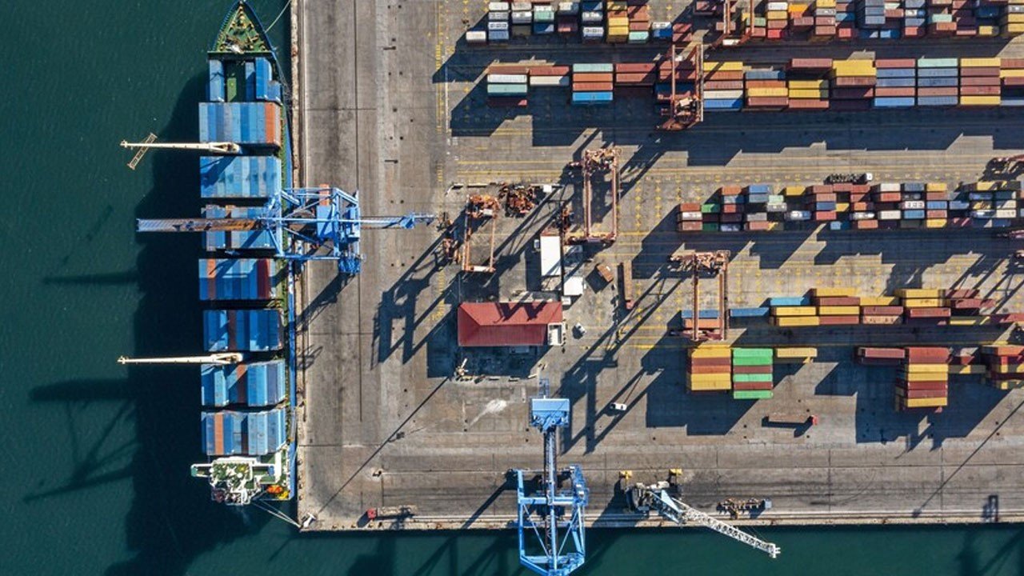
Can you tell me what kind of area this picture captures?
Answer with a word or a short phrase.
port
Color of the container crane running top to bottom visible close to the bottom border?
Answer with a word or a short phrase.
blue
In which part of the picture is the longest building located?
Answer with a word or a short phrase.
center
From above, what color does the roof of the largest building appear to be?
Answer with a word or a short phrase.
red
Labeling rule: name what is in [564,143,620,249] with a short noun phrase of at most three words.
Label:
container crane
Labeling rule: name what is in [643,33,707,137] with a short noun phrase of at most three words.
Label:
container crane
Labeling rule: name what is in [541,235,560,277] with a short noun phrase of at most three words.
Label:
shed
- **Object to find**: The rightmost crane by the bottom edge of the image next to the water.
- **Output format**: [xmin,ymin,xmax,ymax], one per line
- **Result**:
[619,469,782,558]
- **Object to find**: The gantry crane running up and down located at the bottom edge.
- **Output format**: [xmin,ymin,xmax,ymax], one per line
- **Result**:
[504,372,593,576]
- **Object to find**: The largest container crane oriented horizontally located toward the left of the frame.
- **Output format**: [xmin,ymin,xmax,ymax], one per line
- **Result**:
[133,186,449,281]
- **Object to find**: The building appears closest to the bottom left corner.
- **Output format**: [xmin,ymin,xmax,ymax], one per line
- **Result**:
[457,301,563,354]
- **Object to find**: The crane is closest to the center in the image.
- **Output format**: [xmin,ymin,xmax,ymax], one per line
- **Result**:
[453,194,505,274]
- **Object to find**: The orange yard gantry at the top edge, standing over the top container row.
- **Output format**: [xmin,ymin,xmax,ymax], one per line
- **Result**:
[691,0,758,61]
